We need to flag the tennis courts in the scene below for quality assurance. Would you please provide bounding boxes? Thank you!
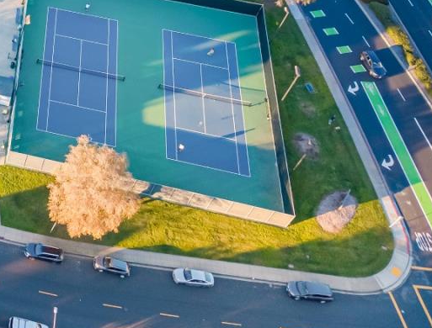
[7,0,286,227]
[159,28,252,176]
[37,6,125,140]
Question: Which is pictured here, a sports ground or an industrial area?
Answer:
sports ground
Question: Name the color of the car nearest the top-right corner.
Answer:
blue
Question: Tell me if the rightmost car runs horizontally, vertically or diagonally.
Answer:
diagonally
